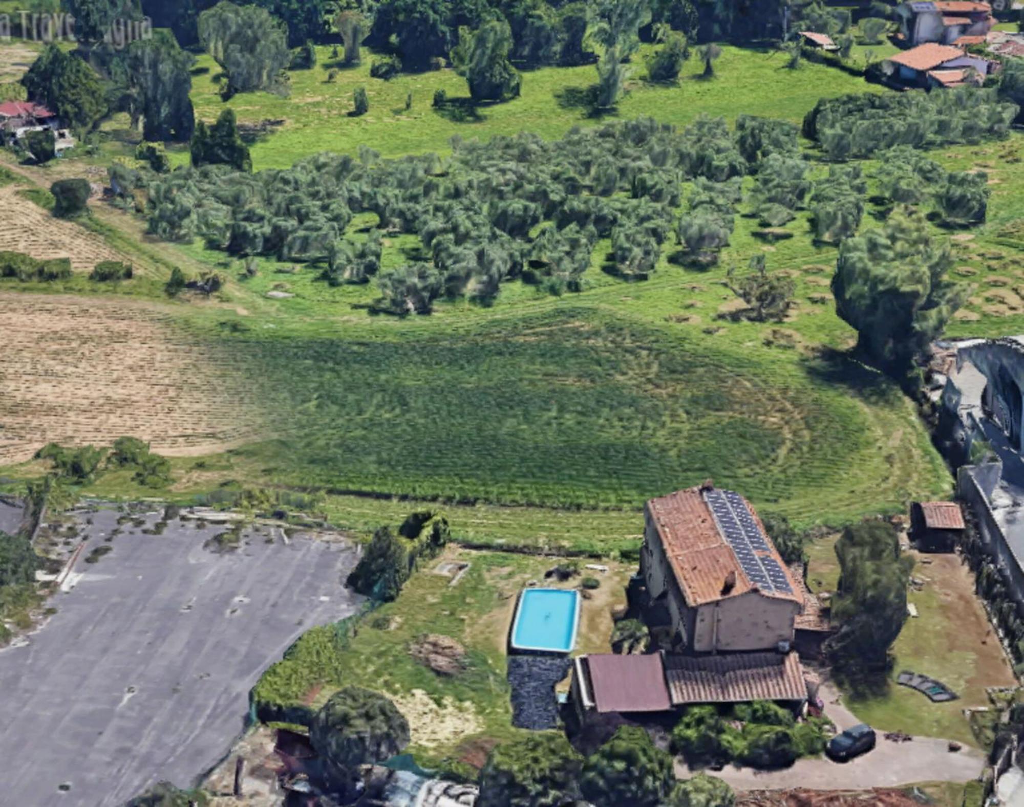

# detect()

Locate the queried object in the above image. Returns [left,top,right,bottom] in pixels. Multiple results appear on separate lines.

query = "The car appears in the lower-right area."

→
[828,724,877,762]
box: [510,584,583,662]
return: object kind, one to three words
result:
swimming pool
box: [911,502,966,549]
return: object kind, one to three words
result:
shed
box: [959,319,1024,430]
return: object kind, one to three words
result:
hangar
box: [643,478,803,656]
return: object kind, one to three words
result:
house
